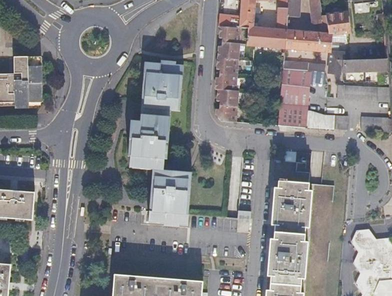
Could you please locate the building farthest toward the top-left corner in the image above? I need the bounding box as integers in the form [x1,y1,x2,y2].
[0,25,42,108]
